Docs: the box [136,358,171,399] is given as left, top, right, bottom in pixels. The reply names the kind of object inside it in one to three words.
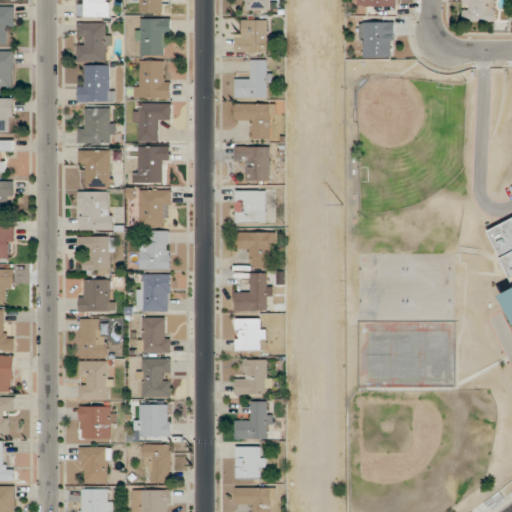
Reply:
house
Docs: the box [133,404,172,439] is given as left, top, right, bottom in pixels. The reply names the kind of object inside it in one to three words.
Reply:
house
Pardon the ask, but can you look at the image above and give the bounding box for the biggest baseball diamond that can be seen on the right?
[358,76,466,212]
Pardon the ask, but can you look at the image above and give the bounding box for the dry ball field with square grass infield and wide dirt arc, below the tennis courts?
[362,398,442,483]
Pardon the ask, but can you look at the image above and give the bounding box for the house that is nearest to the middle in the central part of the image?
[237,232,278,272]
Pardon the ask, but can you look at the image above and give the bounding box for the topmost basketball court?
[360,254,455,321]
